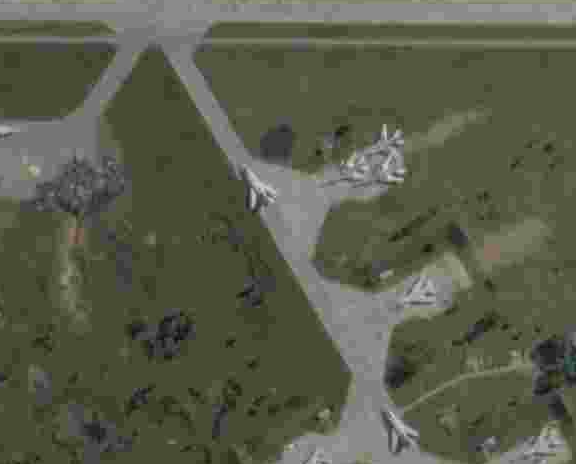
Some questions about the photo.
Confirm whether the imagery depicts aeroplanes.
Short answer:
Yes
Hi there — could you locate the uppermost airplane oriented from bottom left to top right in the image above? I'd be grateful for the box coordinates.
[357,126,403,160]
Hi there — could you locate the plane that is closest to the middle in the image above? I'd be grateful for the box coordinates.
[244,168,279,213]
